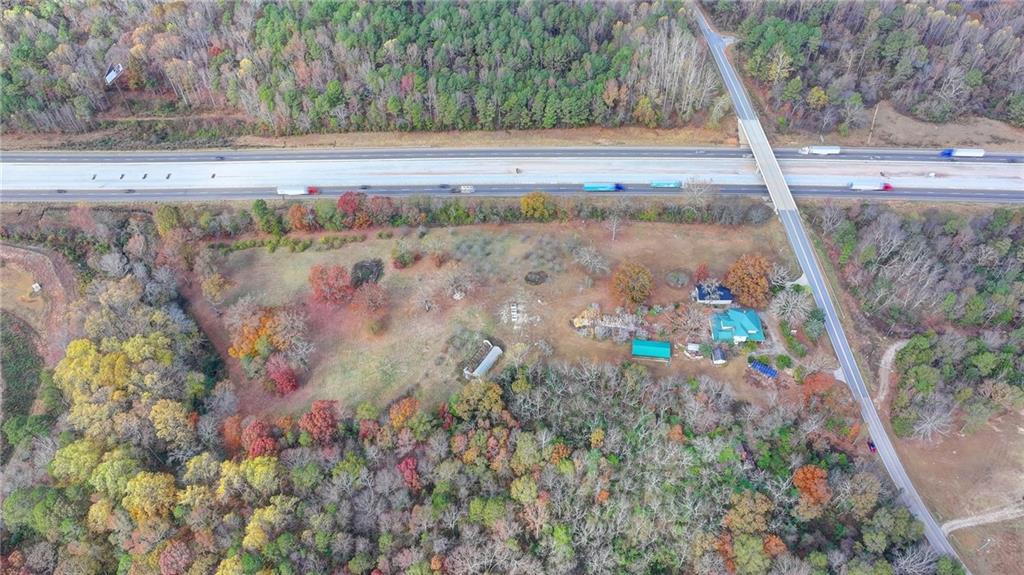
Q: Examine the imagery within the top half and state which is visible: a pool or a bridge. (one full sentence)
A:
It is a bridge that can be seen within the top half.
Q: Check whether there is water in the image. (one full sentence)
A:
No, there's no water in this view.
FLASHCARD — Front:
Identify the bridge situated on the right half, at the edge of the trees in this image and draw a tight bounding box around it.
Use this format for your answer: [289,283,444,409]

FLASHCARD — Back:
[739,118,798,211]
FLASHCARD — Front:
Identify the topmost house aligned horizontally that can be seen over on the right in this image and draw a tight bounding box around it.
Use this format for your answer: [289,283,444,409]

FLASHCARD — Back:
[698,286,734,305]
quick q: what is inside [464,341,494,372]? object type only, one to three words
house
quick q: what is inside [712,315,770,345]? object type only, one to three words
house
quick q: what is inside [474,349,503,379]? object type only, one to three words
greenhouse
